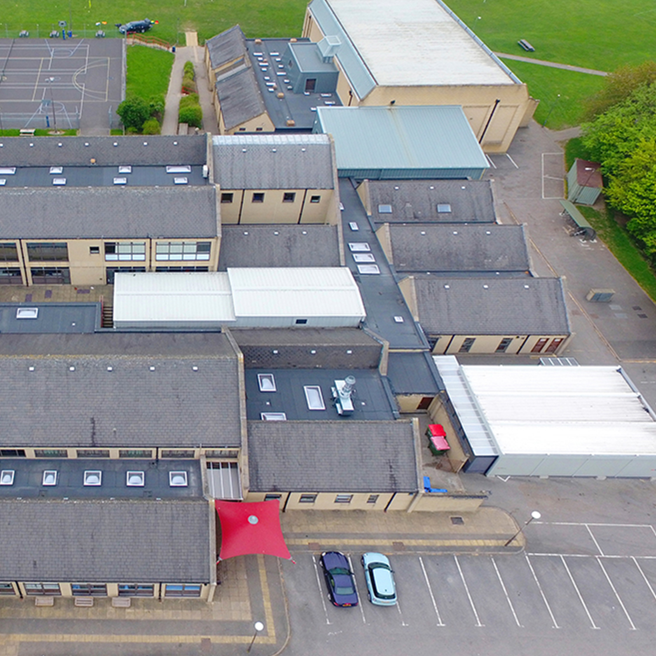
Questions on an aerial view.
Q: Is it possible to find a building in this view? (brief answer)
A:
Yes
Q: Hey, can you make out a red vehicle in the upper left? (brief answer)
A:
No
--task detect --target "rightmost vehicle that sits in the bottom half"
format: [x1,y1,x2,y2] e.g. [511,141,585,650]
[361,553,397,608]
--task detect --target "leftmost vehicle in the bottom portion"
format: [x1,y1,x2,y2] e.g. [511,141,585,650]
[321,554,358,609]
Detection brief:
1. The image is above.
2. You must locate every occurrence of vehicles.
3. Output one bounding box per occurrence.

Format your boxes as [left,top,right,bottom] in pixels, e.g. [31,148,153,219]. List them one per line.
[321,554,358,609]
[361,553,397,608]
[119,14,156,33]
